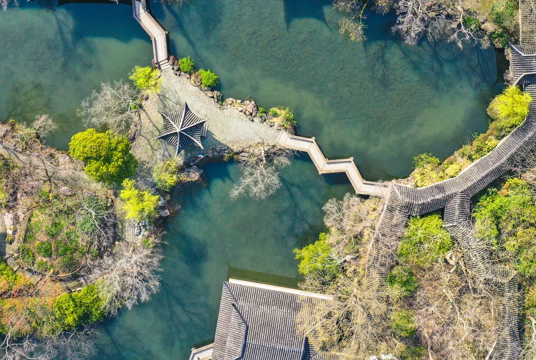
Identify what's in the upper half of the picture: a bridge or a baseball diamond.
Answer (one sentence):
Looking in the upper half of the picture, you will find a bridge.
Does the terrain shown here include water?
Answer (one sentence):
Yes, some water is visible.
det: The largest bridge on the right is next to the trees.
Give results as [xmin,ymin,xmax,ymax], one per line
[280,129,393,199]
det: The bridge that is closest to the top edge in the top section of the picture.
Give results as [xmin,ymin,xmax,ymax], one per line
[129,0,172,68]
